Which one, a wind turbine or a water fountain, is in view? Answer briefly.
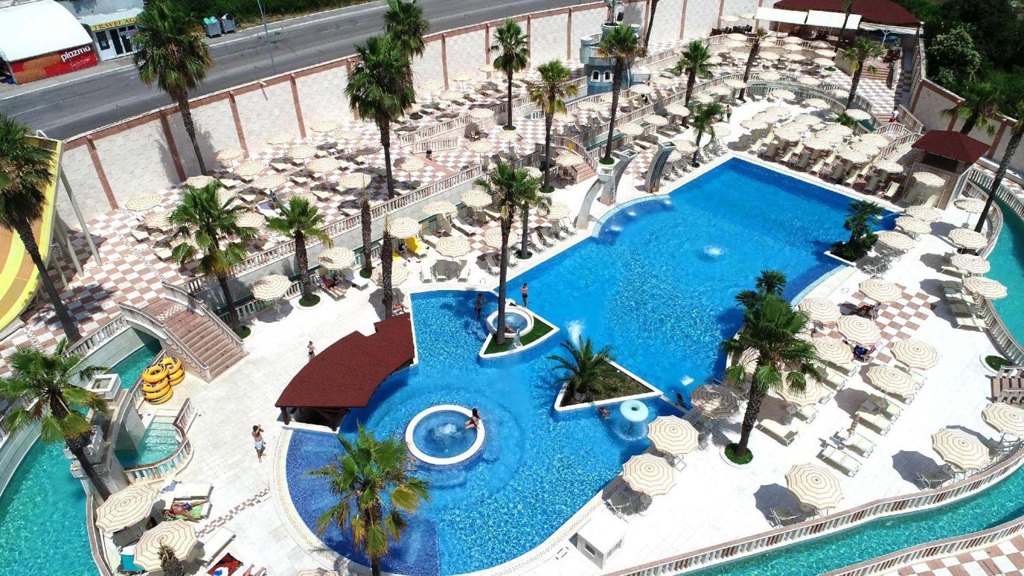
water fountain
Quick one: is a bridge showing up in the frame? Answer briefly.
Yes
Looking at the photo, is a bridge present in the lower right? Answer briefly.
No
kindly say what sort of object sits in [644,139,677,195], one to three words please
fountain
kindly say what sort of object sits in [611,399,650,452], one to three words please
fountain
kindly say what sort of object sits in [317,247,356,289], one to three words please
umbrella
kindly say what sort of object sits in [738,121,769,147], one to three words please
umbrella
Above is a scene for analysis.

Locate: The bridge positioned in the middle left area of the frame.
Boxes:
[125,277,250,385]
